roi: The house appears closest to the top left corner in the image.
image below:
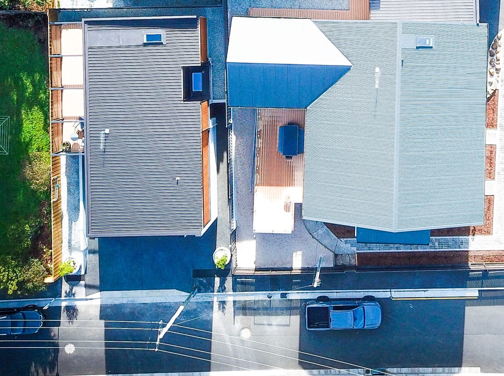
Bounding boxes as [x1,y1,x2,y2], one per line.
[82,14,220,237]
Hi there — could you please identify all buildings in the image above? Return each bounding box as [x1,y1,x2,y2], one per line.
[82,14,220,237]
[226,15,489,234]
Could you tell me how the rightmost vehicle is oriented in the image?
from left to right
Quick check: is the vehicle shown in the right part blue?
Yes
